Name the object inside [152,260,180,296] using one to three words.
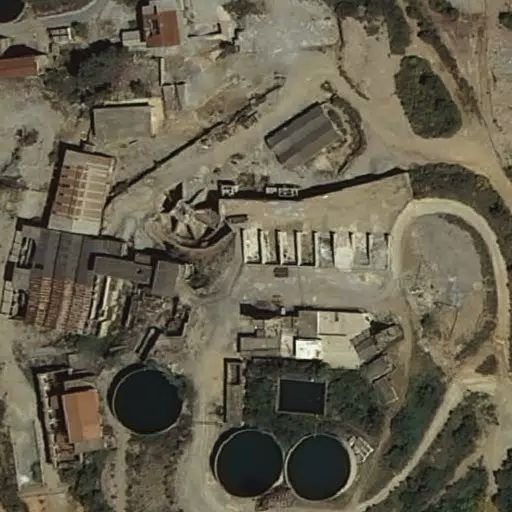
building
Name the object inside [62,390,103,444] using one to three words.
building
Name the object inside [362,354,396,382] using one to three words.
shed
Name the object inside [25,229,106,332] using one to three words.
shed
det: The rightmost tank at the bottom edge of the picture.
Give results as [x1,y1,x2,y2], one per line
[284,433,357,502]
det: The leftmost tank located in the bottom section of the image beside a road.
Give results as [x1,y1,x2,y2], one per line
[113,366,183,436]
